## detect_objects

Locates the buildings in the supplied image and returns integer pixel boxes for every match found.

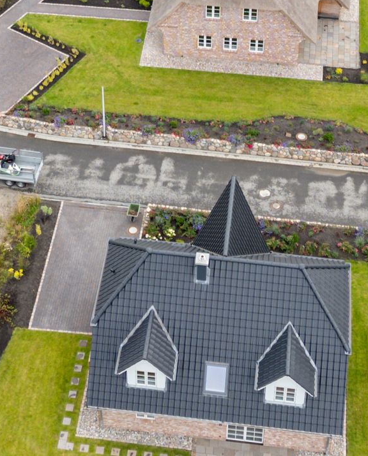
[146,0,349,63]
[85,174,349,456]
